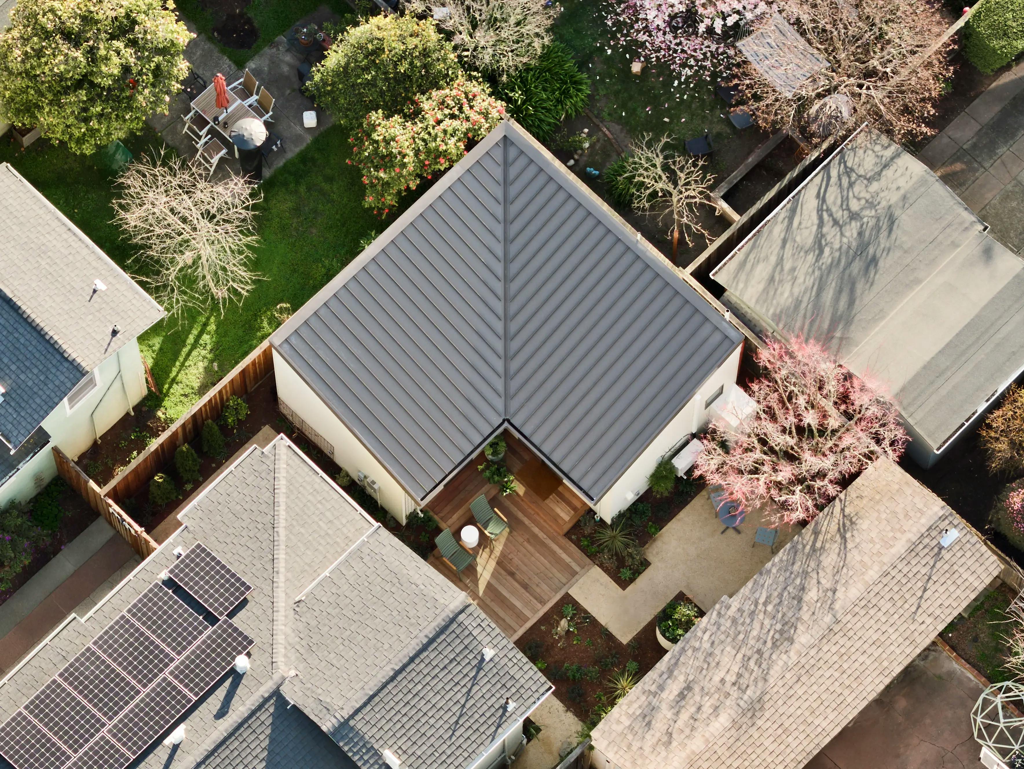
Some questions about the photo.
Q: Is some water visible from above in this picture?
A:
No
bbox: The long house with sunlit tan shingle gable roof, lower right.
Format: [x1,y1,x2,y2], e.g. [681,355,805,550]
[588,456,1008,769]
